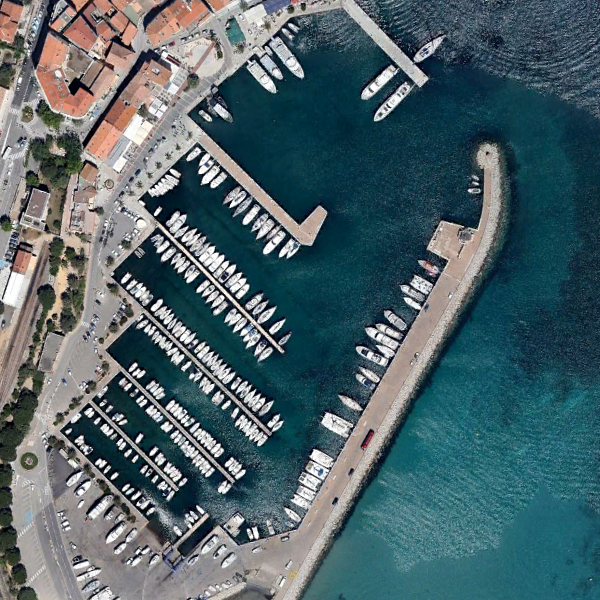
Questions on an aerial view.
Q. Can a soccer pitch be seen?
No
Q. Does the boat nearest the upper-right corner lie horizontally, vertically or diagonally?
diagonally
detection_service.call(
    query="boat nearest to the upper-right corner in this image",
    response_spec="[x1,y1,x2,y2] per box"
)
[412,35,447,64]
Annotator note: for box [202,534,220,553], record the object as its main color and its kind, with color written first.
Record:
white boat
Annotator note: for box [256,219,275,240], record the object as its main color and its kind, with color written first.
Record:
white boat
